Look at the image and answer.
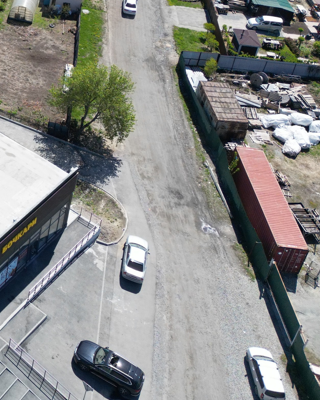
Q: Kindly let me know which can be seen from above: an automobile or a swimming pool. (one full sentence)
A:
The image shows an automobile.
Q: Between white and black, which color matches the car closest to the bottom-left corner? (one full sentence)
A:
In this view, the car closest to the bottom-left corner is black.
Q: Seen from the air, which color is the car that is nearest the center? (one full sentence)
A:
In this view, the car that is nearest the center is white.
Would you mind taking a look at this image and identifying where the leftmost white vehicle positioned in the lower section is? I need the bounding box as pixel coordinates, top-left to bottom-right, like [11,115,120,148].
[119,238,148,287]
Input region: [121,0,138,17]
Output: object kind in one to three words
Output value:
car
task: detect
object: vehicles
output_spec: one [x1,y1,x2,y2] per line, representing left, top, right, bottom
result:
[121,0,138,17]
[70,344,145,397]
[244,16,285,34]
[119,238,148,287]
[244,343,287,400]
